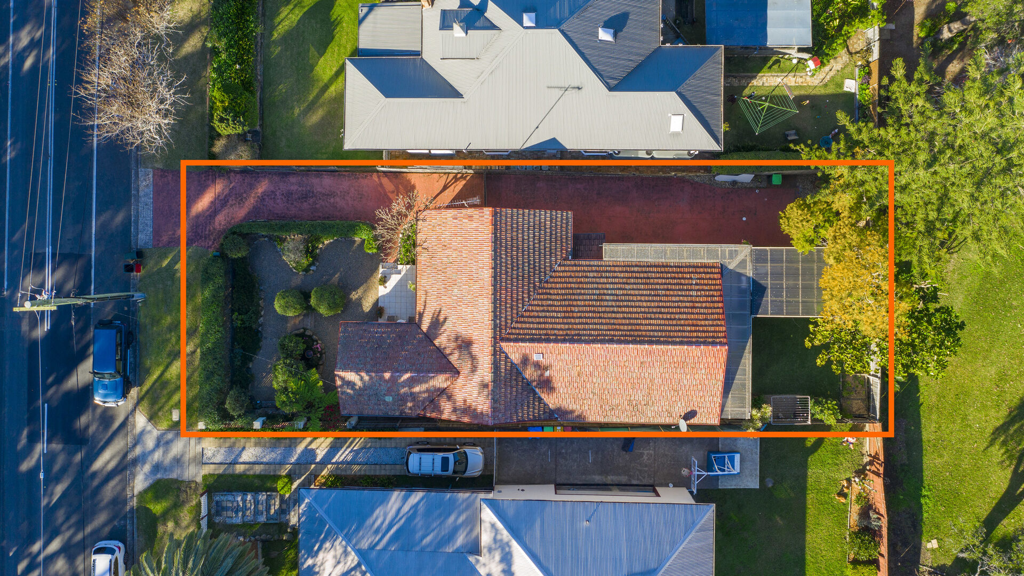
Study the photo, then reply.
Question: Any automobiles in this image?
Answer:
Yes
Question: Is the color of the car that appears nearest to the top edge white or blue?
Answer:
blue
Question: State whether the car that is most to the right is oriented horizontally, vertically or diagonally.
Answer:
horizontally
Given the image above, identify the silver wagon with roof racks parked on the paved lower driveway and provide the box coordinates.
[406,441,486,478]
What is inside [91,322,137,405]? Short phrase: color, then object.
blue car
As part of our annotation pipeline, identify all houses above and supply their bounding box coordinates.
[298,479,716,576]
[344,0,724,151]
[335,206,730,426]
